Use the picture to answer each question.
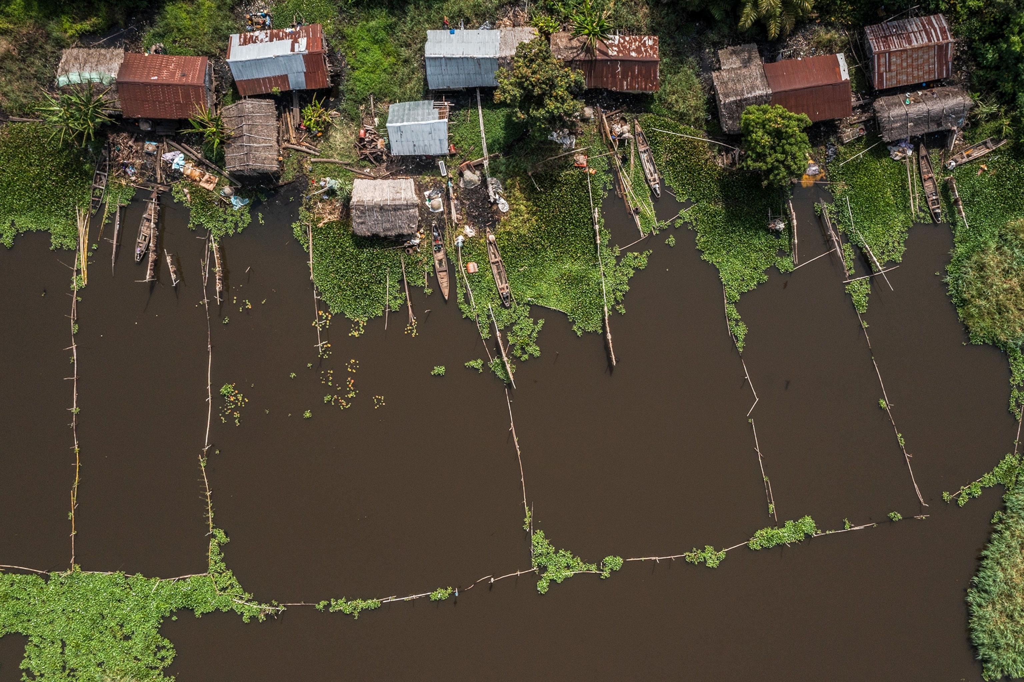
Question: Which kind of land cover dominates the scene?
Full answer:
What you mostly see from above here is water.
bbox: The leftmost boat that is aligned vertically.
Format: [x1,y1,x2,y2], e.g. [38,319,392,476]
[90,141,109,217]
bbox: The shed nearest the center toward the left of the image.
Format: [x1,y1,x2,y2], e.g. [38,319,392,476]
[349,175,420,239]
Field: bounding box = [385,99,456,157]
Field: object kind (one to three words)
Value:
shed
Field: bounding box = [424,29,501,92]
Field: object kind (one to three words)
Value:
shed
